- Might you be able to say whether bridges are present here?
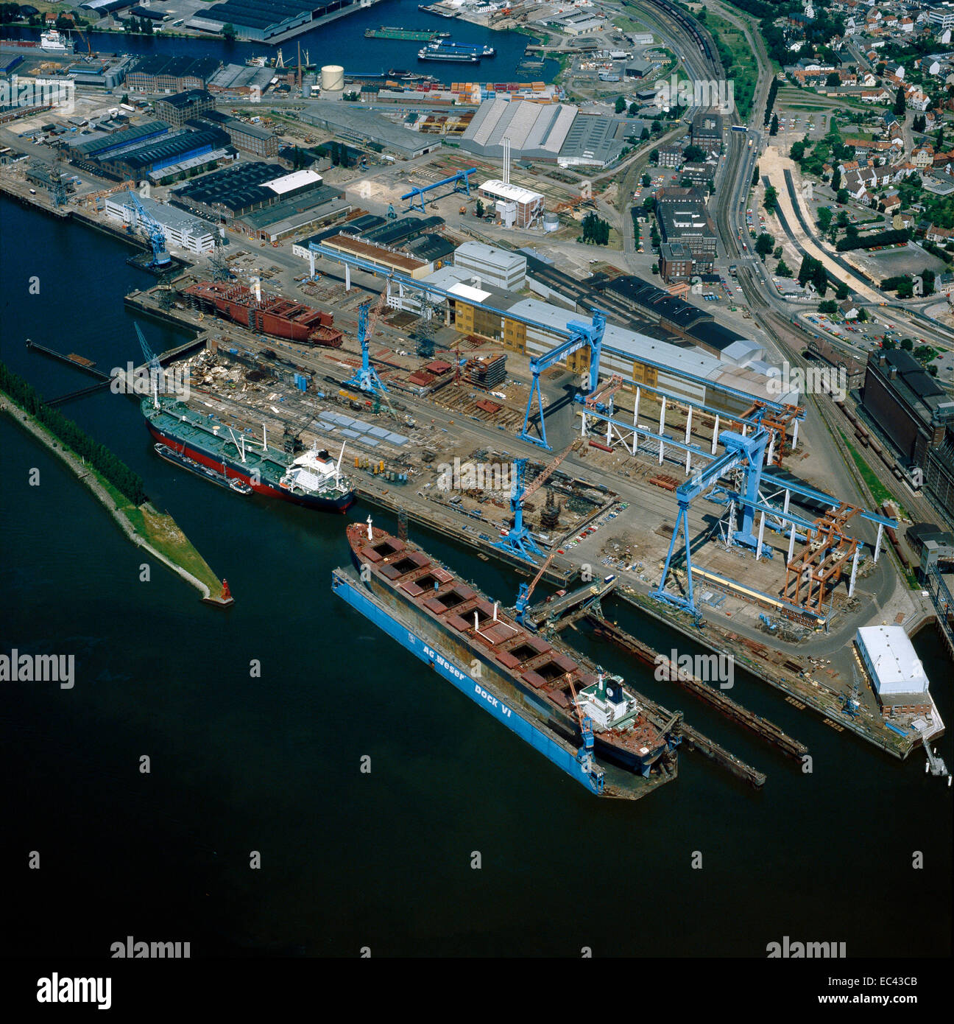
Yes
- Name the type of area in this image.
port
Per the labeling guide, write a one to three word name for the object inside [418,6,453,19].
ship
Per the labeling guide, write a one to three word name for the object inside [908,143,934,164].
house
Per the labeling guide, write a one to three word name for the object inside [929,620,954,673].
pier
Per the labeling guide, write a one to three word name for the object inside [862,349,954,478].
building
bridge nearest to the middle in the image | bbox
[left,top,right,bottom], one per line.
[529,572,624,633]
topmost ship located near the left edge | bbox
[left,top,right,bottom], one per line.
[0,22,75,53]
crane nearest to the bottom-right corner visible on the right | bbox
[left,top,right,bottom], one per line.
[834,664,868,725]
